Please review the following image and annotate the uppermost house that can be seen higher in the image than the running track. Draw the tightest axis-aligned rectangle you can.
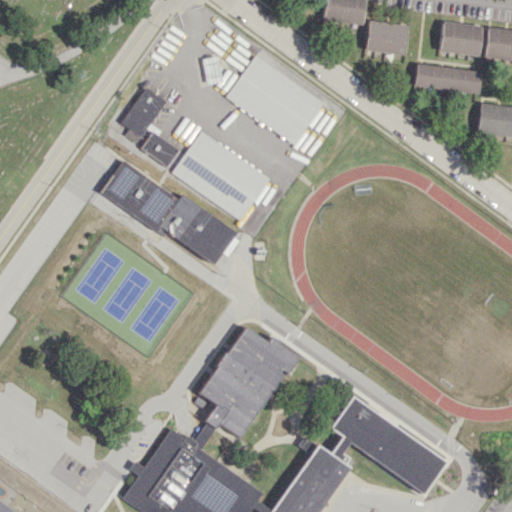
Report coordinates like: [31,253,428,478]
[324,0,369,28]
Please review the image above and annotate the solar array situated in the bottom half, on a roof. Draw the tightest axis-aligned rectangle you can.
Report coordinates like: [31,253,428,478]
[193,474,238,512]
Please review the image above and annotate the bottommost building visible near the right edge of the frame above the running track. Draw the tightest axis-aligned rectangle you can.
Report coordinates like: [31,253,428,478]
[478,102,512,138]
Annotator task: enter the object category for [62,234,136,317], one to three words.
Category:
tennis court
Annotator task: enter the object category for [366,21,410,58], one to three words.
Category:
house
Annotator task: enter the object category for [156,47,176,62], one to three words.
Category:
vehicle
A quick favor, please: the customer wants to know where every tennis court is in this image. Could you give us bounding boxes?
[121,274,192,356]
[94,256,164,336]
[62,234,136,317]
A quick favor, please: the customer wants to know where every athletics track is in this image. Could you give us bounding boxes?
[288,164,512,422]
